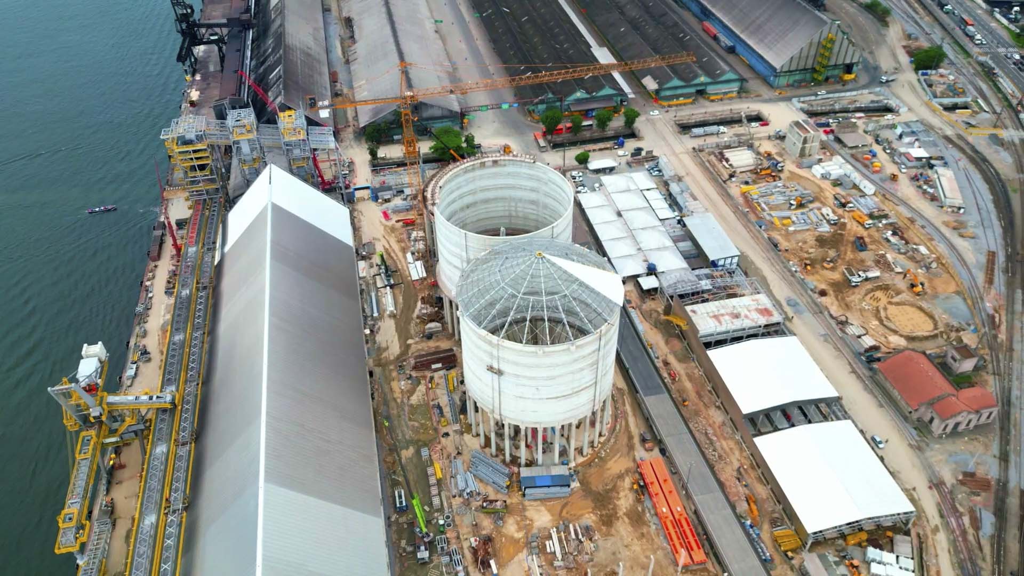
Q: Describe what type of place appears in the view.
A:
industrial area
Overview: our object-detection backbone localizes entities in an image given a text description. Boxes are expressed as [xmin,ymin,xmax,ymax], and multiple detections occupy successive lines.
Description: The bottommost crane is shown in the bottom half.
[399,455,449,572]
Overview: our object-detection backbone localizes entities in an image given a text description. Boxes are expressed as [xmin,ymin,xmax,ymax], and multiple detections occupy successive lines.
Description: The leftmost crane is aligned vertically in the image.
[153,158,180,263]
